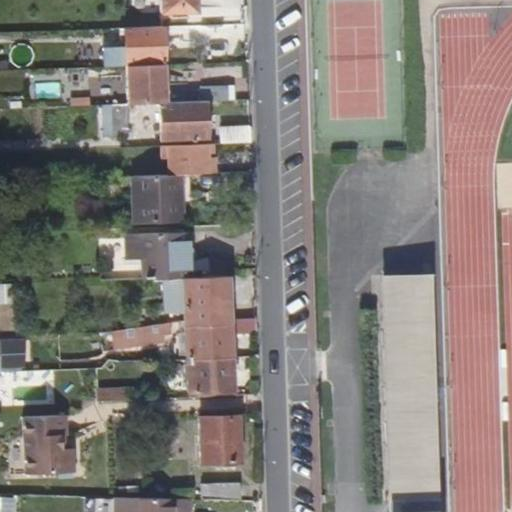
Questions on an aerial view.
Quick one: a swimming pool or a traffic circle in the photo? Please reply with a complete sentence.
The one in the frame is a swimming pool.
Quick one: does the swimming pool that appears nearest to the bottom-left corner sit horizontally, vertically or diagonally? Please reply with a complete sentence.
The swimming pool that appears nearest to the bottom-left corner is oriented horizontally.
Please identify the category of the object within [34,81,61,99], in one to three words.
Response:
swimming pool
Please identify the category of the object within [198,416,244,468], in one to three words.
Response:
house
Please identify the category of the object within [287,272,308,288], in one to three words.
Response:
car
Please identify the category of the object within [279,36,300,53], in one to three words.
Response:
vehicle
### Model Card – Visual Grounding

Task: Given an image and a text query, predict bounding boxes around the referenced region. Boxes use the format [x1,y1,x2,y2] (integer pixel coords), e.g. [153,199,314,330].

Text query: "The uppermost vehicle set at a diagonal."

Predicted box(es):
[276,8,302,29]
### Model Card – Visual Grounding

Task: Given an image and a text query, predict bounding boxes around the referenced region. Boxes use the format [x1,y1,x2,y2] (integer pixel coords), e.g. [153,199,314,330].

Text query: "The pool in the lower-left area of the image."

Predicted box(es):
[10,383,50,404]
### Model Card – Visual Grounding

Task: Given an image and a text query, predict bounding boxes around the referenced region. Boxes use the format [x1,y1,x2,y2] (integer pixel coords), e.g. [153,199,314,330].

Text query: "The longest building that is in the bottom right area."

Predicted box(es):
[382,274,442,494]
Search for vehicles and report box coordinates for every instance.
[288,309,309,326]
[268,350,279,373]
[284,248,306,266]
[294,486,315,502]
[290,432,312,446]
[288,259,308,276]
[286,297,309,315]
[198,178,218,188]
[281,86,302,102]
[290,406,312,420]
[294,502,316,512]
[284,153,304,170]
[287,272,308,288]
[276,8,302,29]
[291,418,312,432]
[282,74,302,90]
[279,36,300,53]
[292,462,312,478]
[291,446,313,462]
